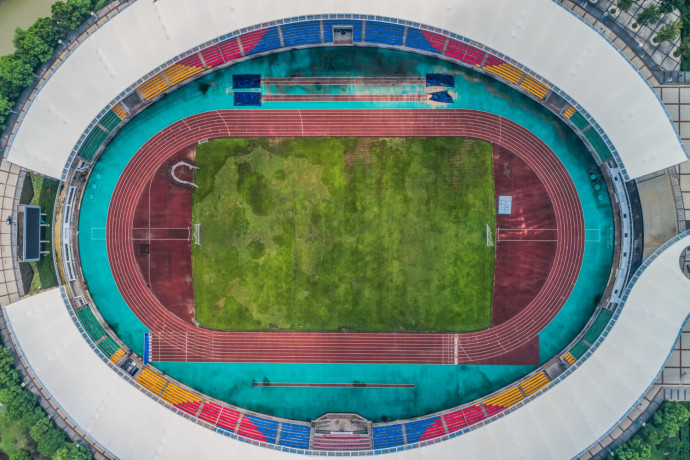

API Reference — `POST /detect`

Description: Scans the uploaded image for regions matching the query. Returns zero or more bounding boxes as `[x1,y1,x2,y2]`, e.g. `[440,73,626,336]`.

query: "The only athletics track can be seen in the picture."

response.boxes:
[106,109,584,363]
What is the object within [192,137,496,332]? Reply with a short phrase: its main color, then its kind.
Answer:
green soccer field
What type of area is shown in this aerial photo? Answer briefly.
sports ground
